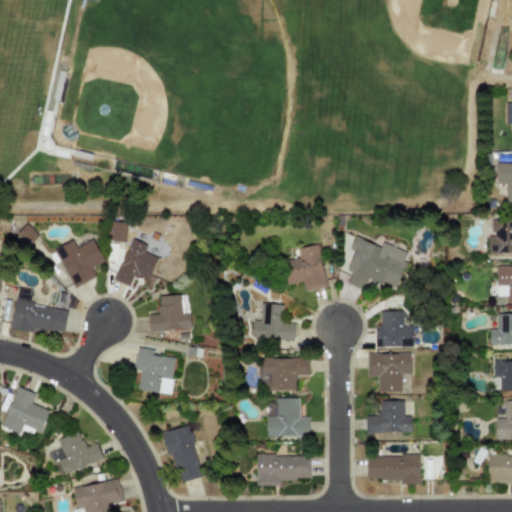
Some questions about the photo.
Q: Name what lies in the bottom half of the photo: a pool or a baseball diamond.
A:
pool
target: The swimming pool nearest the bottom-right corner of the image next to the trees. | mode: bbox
[462,420,482,439]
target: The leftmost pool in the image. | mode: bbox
[19,270,40,288]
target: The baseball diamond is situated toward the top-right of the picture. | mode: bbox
[274,0,490,212]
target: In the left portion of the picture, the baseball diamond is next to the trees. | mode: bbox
[54,0,290,187]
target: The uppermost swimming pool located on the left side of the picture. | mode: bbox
[48,225,71,240]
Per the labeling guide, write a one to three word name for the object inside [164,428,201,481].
house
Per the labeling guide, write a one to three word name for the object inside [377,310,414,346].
house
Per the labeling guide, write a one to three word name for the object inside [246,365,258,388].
swimming pool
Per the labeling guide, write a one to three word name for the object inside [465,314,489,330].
swimming pool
